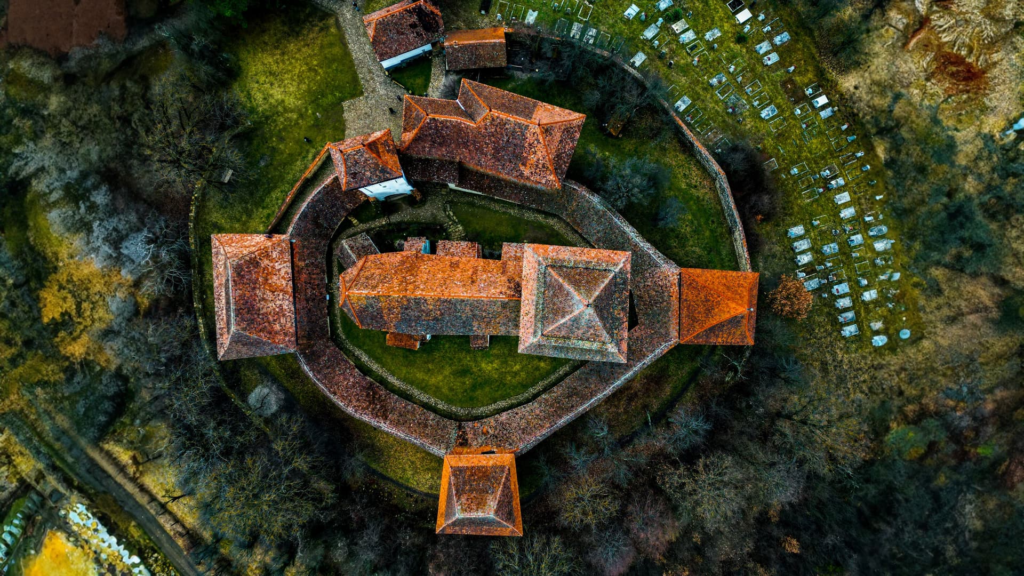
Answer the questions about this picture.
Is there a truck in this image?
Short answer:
No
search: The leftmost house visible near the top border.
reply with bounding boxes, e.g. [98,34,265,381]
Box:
[362,0,445,68]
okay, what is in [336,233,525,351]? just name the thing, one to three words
building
